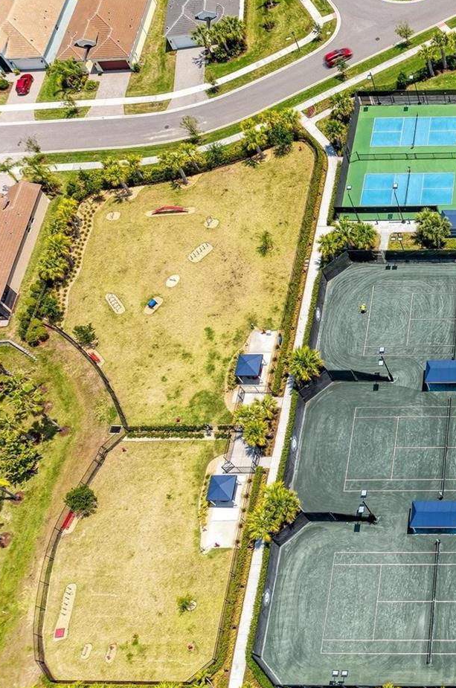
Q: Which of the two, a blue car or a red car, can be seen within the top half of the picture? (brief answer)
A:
red car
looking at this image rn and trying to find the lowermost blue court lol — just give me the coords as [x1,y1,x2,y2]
[334,159,456,218]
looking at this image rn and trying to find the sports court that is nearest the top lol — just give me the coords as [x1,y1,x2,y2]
[348,105,456,160]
